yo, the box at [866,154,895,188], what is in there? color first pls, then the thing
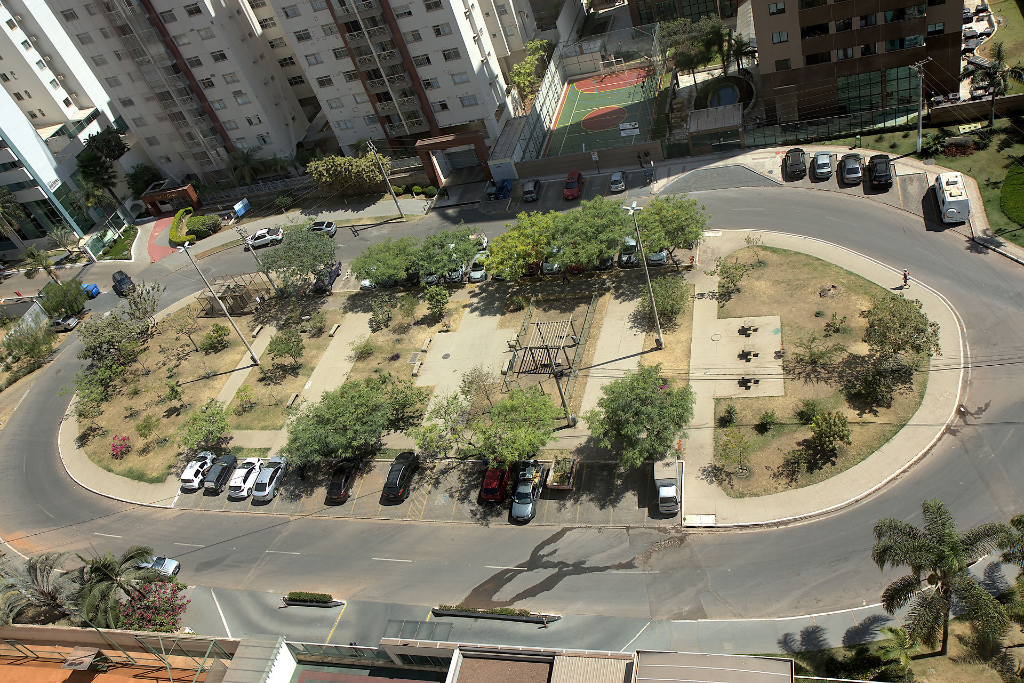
black car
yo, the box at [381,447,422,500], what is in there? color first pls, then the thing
black car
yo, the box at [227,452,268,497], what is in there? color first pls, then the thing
white car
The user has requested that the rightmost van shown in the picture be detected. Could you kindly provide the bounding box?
[930,169,971,223]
